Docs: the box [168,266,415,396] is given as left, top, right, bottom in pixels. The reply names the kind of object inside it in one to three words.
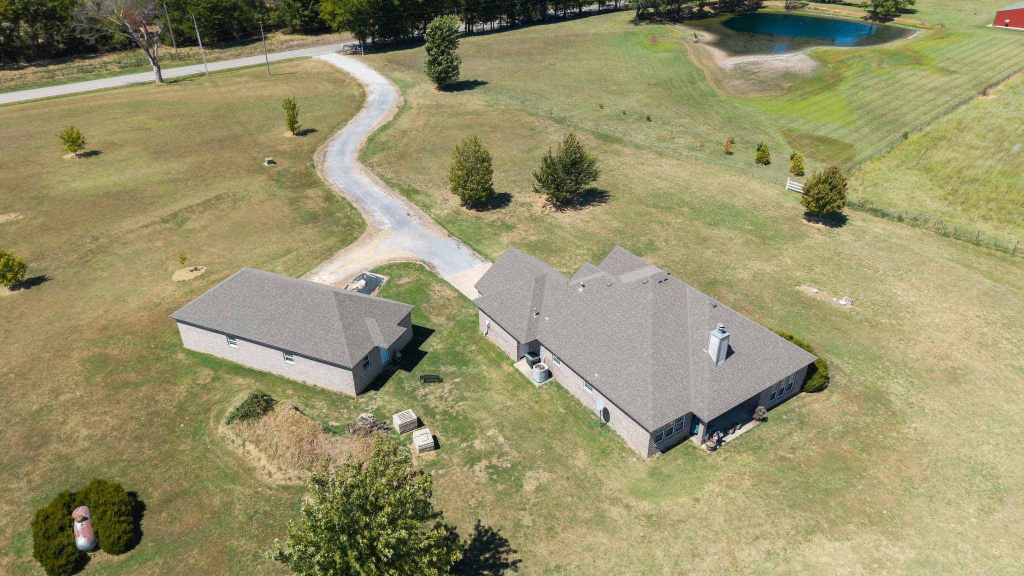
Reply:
shed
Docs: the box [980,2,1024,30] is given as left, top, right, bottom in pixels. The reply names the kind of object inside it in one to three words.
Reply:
barn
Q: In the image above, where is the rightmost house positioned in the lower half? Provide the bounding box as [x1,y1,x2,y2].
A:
[472,245,820,458]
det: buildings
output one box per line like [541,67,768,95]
[980,2,1024,30]
[472,245,820,458]
[168,266,415,396]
